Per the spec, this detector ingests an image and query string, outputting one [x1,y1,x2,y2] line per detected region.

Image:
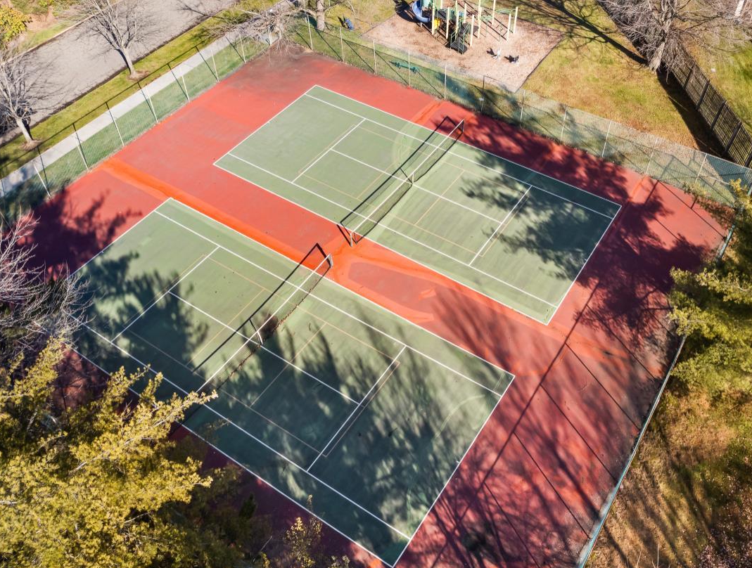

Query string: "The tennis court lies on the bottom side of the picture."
[21,197,514,568]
